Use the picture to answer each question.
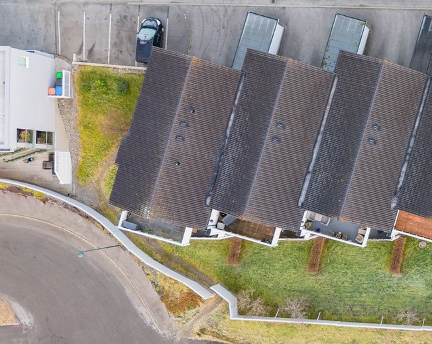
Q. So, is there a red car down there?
No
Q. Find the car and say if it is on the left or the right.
left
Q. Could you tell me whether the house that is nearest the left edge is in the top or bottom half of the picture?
top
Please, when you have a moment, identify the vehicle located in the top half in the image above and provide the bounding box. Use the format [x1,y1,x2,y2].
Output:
[136,18,165,64]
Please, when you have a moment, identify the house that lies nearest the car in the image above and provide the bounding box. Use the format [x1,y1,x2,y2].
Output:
[108,46,248,247]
